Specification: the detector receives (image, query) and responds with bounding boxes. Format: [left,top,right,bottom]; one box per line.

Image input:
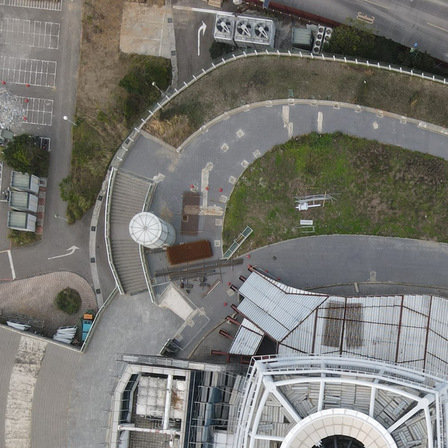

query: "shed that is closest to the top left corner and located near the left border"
[10,170,50,193]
